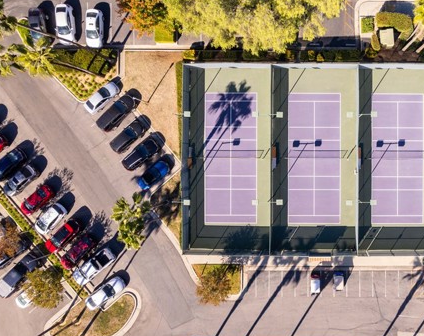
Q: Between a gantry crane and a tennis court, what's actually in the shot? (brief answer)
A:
tennis court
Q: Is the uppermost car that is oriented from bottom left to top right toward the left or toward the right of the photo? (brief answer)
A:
left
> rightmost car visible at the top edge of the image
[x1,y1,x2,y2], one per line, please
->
[83,7,106,50]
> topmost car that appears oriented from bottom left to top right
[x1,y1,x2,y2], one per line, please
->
[83,79,123,111]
